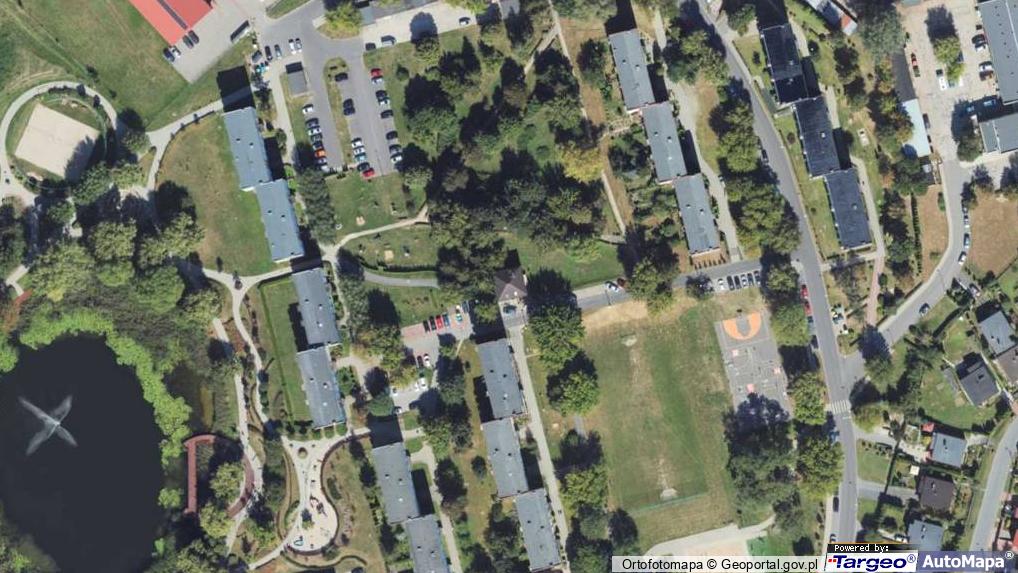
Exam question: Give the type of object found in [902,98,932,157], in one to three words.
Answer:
shed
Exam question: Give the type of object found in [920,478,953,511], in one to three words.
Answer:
house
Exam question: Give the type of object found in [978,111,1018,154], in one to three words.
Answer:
building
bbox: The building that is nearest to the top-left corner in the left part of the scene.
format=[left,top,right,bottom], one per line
[130,0,212,45]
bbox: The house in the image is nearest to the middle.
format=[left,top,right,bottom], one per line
[494,269,527,301]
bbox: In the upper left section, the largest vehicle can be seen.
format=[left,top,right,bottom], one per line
[230,23,252,43]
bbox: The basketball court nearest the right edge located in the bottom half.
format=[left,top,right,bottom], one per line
[715,310,796,440]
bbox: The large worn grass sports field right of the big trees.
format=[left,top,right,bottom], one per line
[589,308,740,517]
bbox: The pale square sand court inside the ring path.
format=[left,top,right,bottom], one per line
[15,102,98,178]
